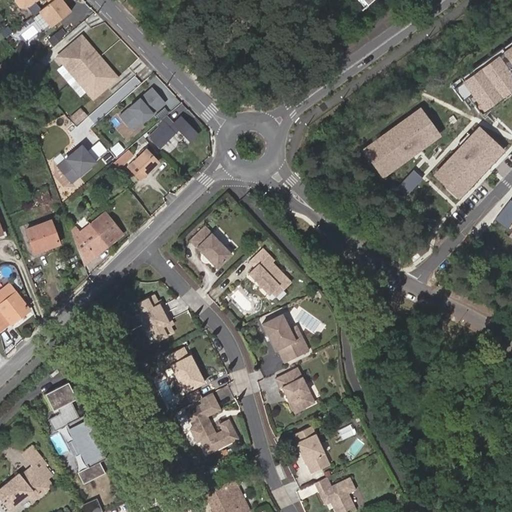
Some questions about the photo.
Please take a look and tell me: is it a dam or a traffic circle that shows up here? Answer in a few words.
traffic circle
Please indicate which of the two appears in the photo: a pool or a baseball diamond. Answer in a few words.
pool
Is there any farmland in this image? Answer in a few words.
No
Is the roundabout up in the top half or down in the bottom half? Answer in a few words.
top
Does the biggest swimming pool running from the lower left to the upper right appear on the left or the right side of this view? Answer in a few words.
right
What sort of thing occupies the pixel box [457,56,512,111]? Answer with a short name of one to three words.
building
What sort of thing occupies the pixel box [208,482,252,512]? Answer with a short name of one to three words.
house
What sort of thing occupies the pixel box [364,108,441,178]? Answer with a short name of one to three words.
building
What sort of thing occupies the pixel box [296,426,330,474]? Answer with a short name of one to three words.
house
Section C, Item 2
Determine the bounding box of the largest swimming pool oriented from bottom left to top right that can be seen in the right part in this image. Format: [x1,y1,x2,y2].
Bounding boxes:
[345,438,364,461]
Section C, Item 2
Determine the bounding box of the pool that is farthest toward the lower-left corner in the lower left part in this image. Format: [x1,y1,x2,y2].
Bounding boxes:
[50,432,69,455]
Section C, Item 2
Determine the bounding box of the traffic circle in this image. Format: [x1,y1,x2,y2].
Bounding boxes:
[213,112,286,184]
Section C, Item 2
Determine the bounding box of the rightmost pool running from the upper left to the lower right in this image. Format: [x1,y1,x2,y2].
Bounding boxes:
[296,310,322,332]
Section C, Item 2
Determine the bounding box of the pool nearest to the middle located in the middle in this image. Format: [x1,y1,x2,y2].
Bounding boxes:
[231,290,253,312]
